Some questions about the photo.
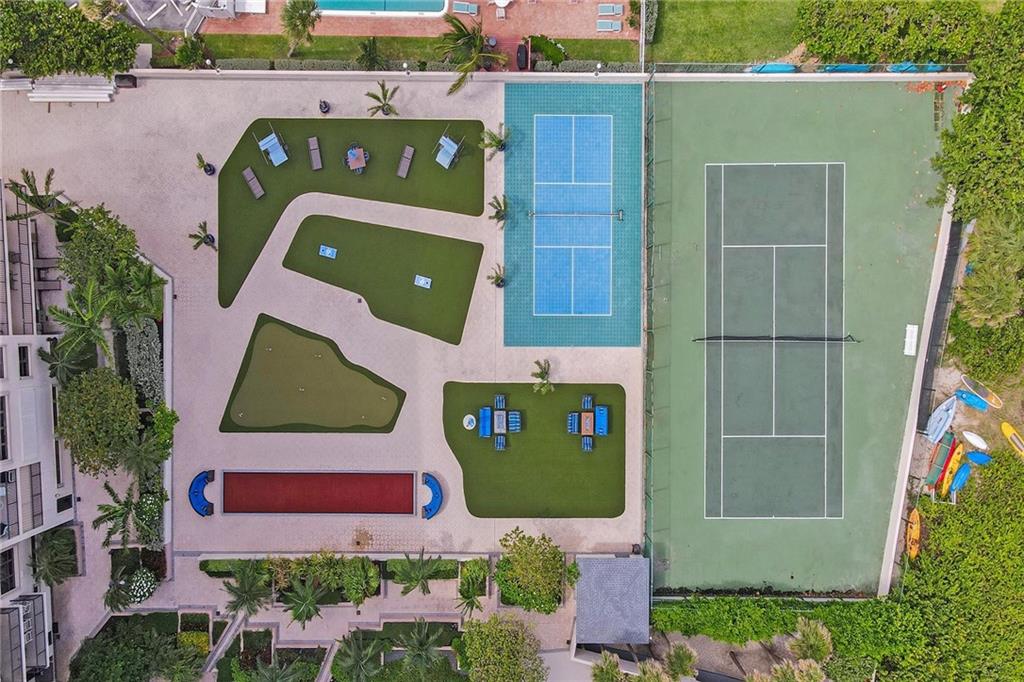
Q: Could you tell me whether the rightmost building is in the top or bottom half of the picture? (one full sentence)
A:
Seen from above, the rightmost building lies in the bottom half of the view.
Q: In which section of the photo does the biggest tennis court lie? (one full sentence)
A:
The biggest tennis court sits in the right section of the image.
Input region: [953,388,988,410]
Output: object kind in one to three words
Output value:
boat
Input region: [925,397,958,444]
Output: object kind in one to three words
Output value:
boat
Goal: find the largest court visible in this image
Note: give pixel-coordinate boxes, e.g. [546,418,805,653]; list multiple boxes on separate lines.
[651,81,958,594]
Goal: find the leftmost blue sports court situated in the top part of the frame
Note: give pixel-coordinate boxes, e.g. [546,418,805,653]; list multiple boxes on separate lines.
[503,81,643,348]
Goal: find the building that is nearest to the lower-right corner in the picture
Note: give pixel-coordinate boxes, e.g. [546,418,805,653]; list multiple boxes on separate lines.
[576,550,652,644]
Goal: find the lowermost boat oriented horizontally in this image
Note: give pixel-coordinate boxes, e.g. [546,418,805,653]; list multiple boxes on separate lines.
[965,451,992,464]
